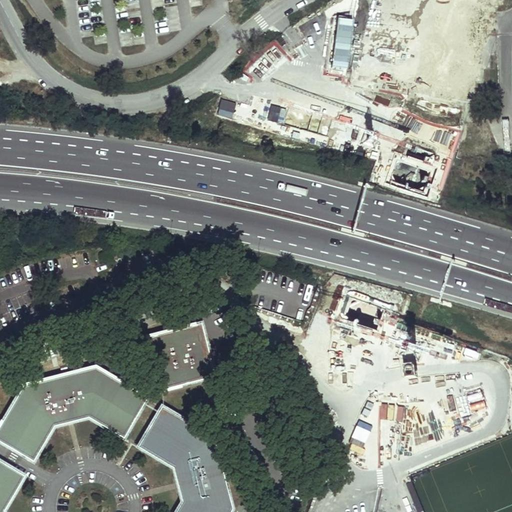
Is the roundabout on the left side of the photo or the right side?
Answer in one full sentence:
The roundabout appears in the left half of the scene.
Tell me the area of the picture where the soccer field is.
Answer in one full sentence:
The soccer field is located in the bottom right region of the scene.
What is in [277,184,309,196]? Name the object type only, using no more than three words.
vehicle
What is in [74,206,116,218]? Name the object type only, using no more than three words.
vehicle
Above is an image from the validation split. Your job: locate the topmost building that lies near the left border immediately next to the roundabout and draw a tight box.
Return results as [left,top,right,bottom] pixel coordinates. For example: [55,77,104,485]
[0,366,146,462]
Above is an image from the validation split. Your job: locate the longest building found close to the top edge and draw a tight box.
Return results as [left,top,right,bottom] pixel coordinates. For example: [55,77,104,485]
[332,10,354,68]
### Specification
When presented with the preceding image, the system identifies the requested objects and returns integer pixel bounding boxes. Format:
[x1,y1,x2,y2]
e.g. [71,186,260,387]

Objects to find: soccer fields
[410,432,512,512]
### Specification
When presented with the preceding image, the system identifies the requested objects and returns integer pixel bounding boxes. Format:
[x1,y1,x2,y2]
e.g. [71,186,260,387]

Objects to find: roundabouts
[44,452,140,512]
